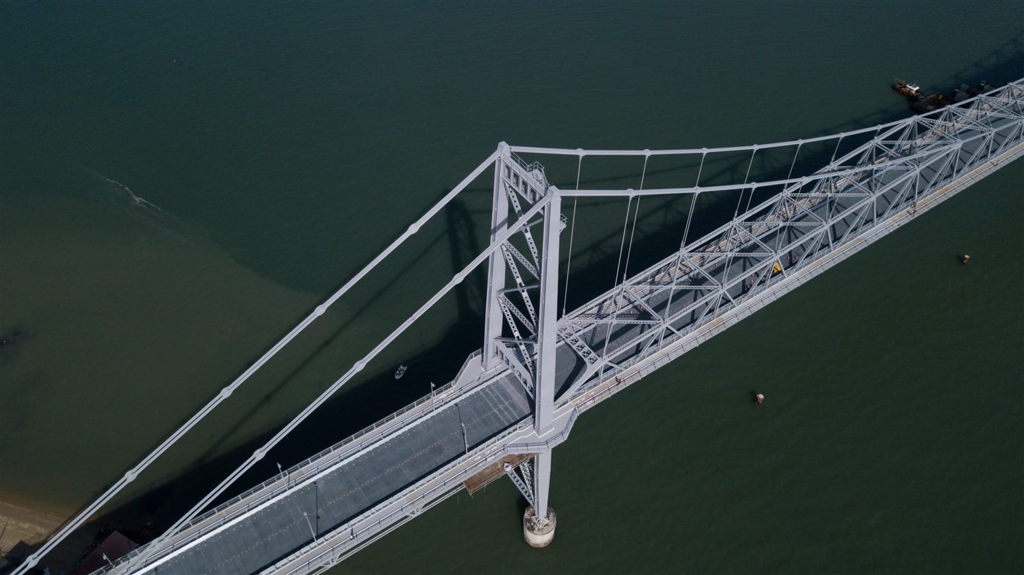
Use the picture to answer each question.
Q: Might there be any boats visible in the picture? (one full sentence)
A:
Yes, looking at the shot, I can spot a boat.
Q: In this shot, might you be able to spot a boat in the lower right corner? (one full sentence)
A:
No, in the lower right corner there is no boat.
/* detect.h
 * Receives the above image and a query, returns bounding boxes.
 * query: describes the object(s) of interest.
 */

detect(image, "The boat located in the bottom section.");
[392,361,408,378]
